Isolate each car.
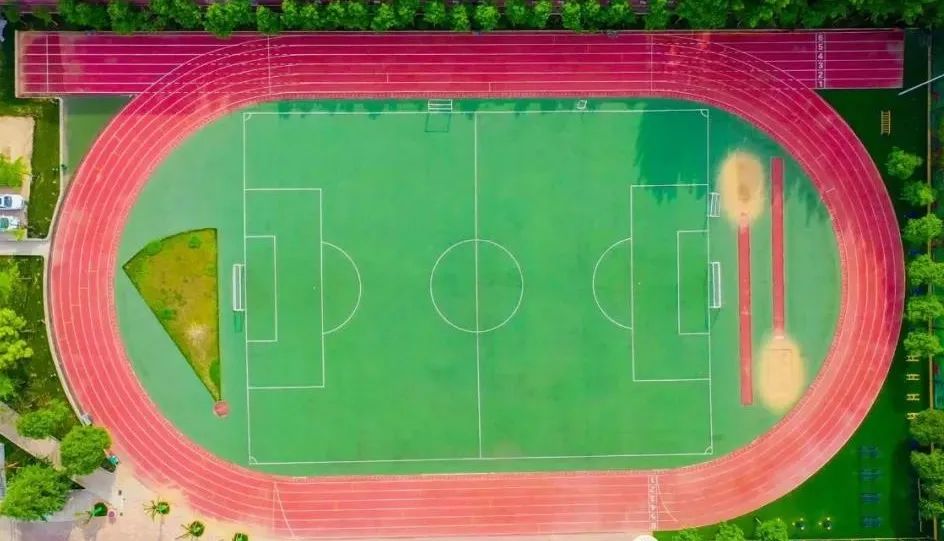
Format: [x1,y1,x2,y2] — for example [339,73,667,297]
[0,213,23,229]
[0,192,28,209]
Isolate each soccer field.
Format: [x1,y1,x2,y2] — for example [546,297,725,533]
[244,110,712,463]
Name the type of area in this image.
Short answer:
sports ground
